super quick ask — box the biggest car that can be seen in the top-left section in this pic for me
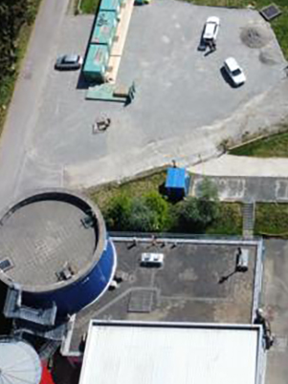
[53,54,83,71]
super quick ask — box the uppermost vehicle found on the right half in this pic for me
[198,19,219,46]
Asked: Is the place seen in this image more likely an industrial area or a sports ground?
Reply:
industrial area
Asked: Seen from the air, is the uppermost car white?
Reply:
Yes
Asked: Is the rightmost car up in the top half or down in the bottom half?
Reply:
top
